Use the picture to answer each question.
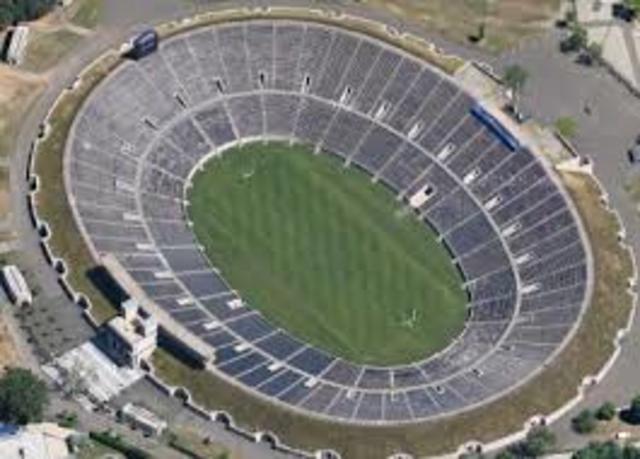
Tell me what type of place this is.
sports ground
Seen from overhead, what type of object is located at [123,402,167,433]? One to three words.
shed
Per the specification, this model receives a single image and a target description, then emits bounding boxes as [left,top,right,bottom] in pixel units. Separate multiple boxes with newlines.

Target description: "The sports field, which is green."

[184,139,471,368]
